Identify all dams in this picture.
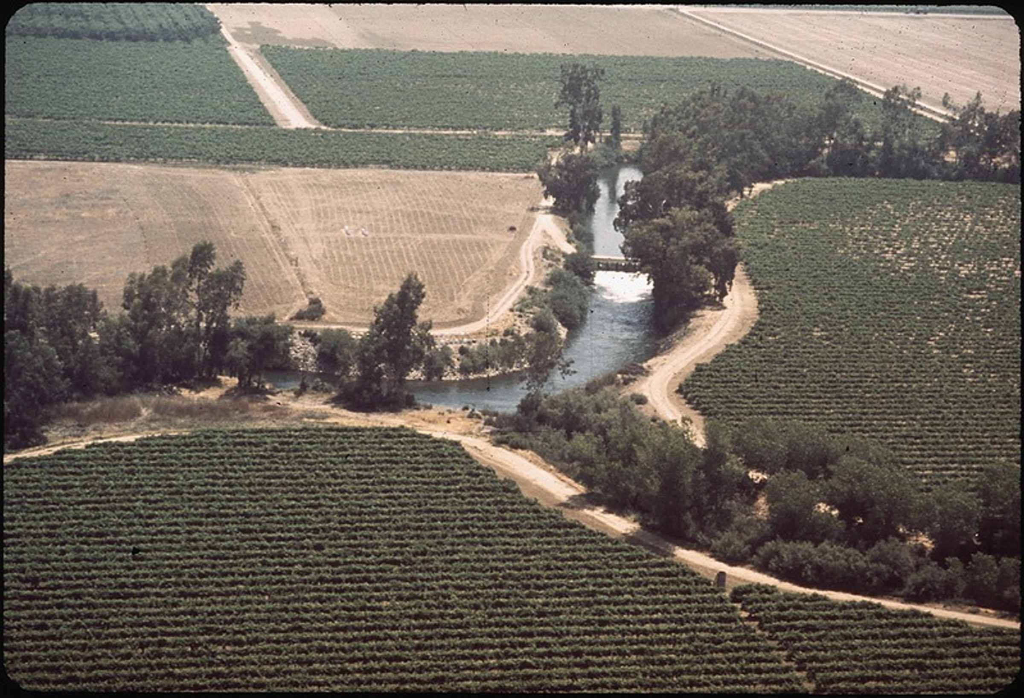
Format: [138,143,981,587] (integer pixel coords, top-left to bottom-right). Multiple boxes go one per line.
[581,255,654,272]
